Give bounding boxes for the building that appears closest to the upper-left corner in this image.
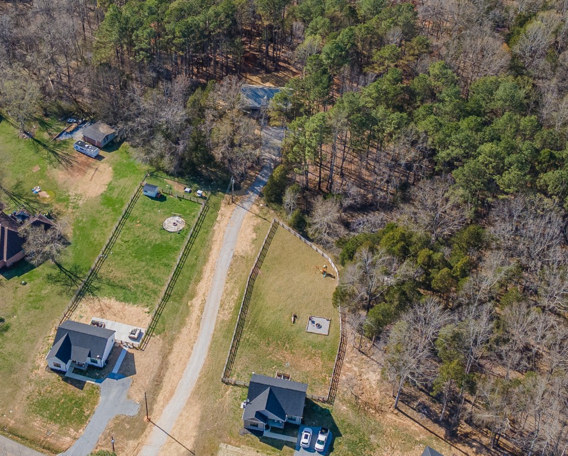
[82,122,119,151]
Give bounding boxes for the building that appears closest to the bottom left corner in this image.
[45,319,117,372]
